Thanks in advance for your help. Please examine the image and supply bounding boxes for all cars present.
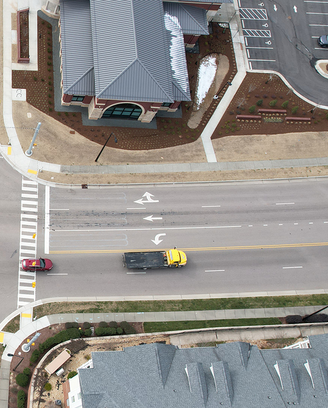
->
[21,257,52,272]
[318,34,328,45]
